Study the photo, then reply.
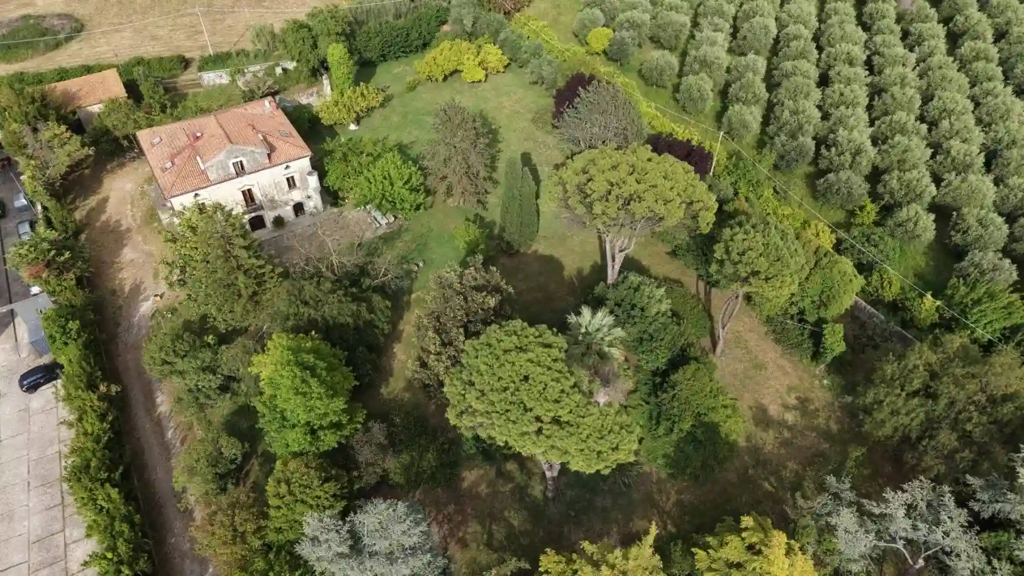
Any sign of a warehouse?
No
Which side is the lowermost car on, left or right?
left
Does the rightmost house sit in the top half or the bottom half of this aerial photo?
top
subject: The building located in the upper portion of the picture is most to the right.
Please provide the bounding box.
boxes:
[131,100,325,256]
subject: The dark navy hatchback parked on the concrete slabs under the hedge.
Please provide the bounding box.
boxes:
[12,355,56,390]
